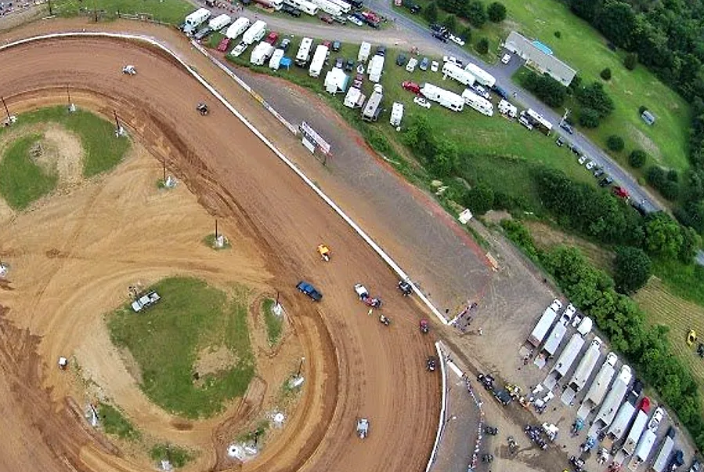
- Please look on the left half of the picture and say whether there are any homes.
No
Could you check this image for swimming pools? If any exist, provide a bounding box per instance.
[532,37,556,54]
